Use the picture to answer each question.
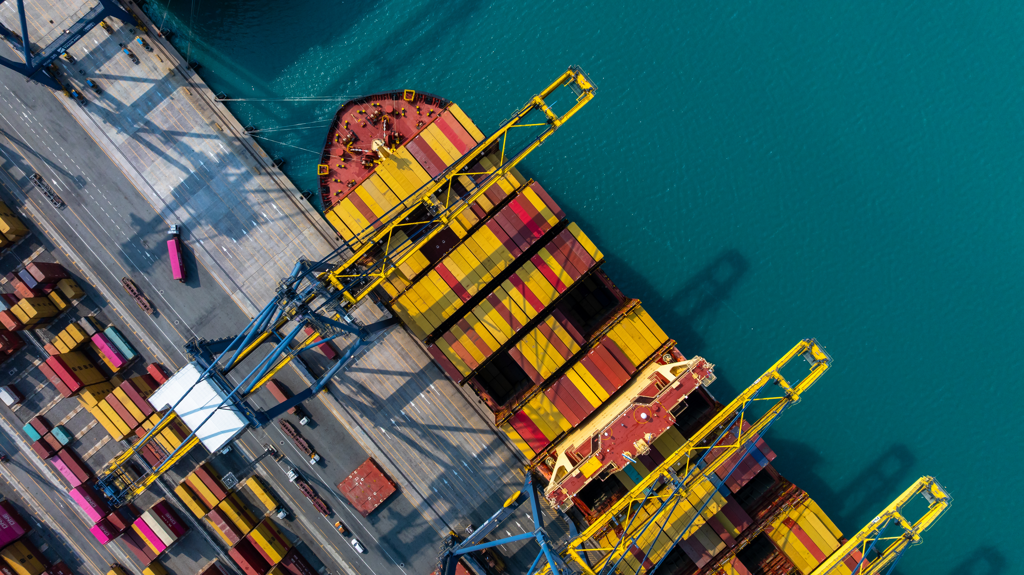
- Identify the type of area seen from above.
port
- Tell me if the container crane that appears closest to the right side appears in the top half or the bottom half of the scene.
bottom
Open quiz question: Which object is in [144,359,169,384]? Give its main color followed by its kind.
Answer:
red shipping container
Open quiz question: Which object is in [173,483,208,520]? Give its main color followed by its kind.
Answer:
yellow shipping container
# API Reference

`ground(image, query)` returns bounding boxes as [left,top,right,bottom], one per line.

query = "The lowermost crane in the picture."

[796,465,961,575]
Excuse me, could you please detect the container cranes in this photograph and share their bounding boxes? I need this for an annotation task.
[796,465,961,575]
[431,327,840,575]
[75,57,606,521]
[0,0,146,98]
